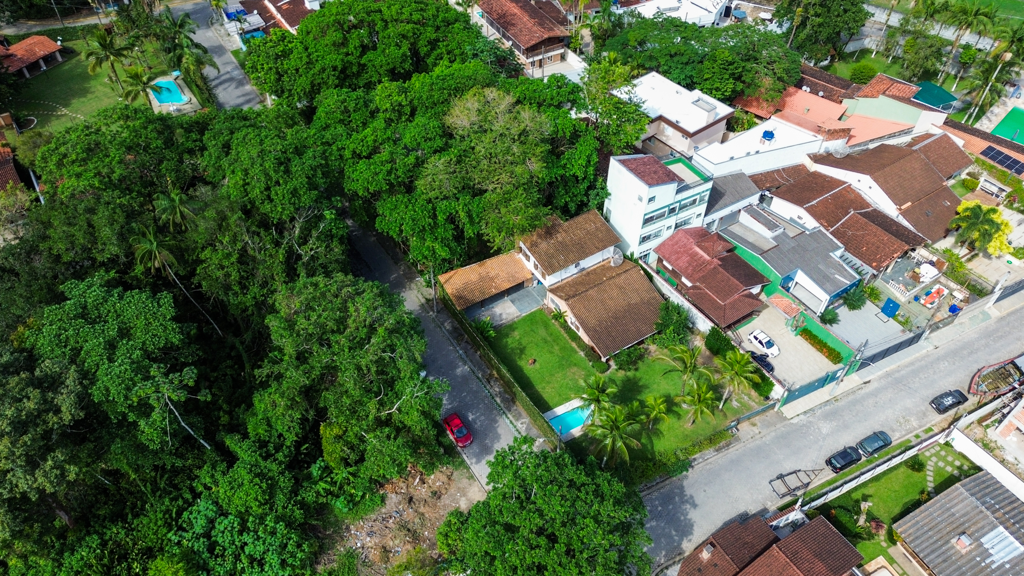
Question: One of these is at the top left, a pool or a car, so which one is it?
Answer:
pool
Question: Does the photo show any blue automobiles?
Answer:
Yes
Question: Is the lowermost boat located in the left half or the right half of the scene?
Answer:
right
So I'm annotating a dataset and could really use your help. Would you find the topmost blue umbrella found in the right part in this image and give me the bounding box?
[728,9,750,22]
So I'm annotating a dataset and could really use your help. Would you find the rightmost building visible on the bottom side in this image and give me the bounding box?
[980,394,1024,477]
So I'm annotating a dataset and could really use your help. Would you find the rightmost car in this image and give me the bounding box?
[925,389,971,415]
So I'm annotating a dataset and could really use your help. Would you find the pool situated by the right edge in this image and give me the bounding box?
[989,103,1024,144]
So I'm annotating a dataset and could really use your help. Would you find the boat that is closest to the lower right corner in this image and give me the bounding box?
[966,352,1024,401]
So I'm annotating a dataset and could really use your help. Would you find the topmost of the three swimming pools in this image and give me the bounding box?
[149,77,202,116]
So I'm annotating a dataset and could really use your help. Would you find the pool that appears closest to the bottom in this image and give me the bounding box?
[546,393,612,442]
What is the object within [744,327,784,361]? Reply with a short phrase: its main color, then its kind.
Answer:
white car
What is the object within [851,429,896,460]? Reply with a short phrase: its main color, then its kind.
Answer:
blue car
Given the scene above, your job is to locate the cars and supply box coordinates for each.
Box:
[925,389,971,415]
[744,344,780,376]
[744,327,784,361]
[820,445,866,476]
[851,429,896,460]
[442,409,474,452]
